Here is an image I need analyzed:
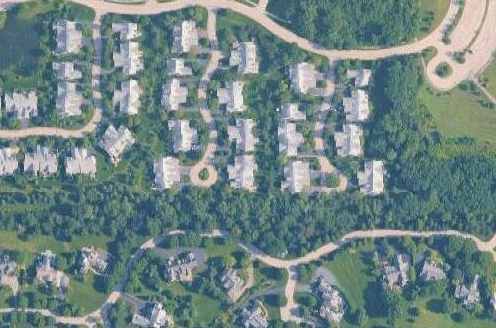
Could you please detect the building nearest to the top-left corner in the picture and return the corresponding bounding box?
[52,19,82,54]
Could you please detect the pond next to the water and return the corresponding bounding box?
[0,11,41,73]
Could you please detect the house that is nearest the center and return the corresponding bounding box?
[227,154,260,191]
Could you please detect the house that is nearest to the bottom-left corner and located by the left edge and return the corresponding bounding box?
[0,251,21,294]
